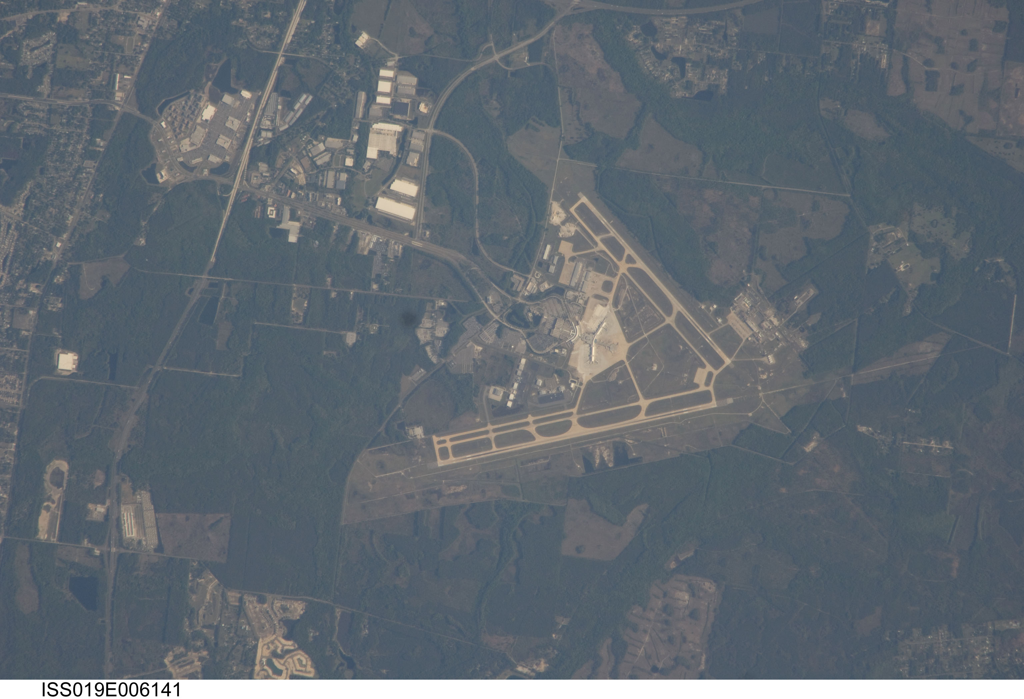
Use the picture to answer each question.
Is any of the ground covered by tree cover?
Yes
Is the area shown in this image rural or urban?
rural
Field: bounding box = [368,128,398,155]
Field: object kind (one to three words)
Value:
building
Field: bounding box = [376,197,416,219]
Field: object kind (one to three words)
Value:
building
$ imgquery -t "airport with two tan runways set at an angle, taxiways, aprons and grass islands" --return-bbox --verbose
[427,177,744,469]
